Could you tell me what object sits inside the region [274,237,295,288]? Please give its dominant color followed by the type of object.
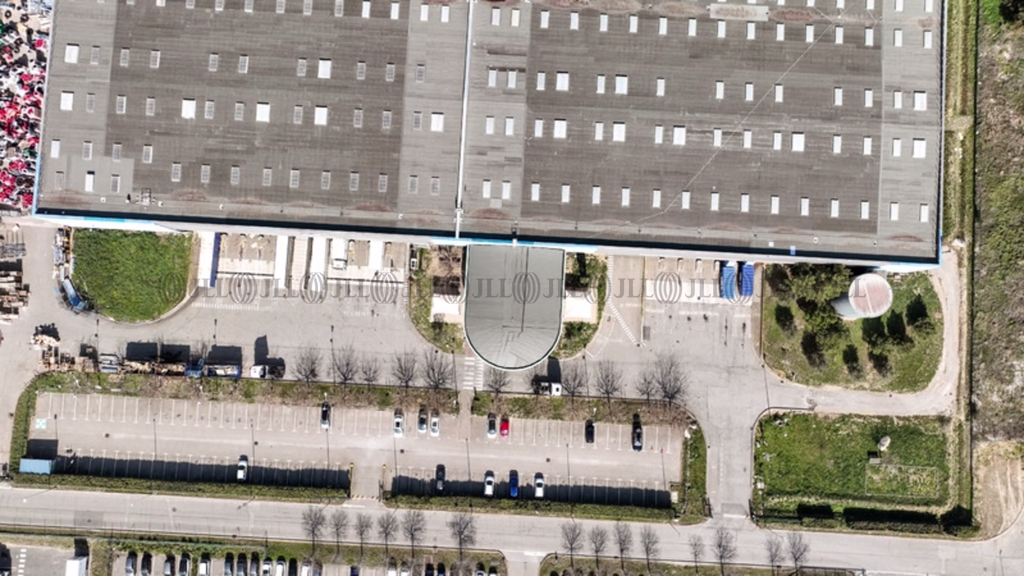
white trailer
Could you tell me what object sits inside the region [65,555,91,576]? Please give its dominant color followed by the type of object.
white truck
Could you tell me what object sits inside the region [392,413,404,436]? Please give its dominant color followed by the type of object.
white vehicle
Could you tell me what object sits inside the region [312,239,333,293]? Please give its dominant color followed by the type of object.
white trailer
